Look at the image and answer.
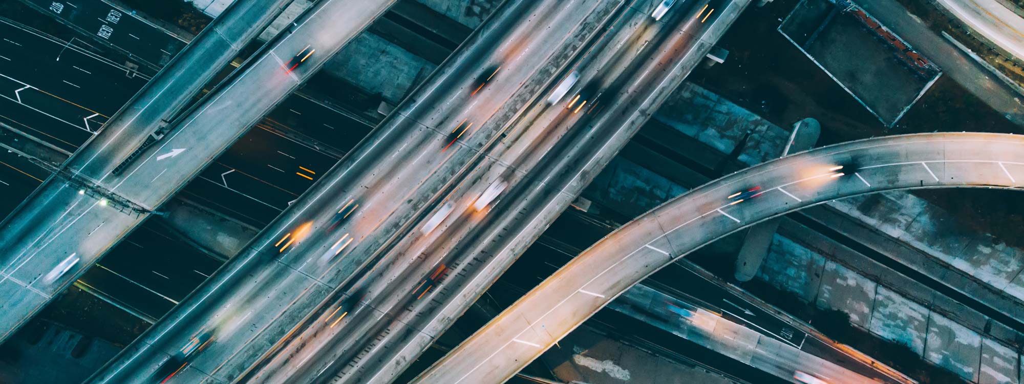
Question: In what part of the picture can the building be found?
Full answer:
You can find the building in the top right area of the picture.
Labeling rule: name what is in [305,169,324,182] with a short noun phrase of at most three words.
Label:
vehicle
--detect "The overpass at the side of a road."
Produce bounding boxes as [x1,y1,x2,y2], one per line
[80,0,754,384]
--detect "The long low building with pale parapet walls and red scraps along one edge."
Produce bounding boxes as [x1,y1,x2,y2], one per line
[775,0,942,127]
